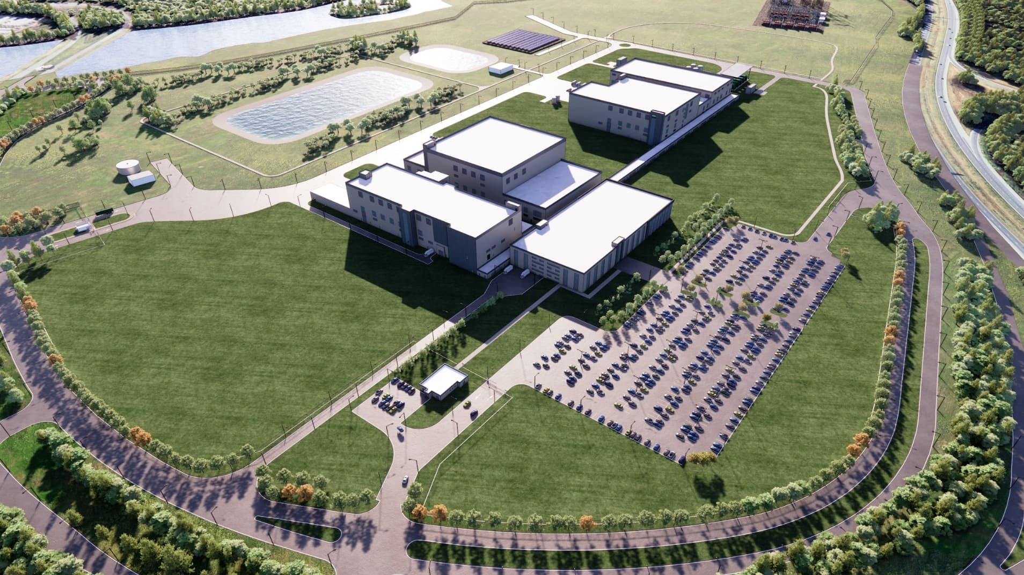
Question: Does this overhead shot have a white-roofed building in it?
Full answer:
Yes, a white-roofed building appears in the view.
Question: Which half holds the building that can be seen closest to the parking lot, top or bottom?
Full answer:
The bottom half of the photo is where the building that can be seen closest to the parking lot is.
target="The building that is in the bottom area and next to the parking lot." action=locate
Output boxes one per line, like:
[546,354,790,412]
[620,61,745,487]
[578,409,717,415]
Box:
[419,364,469,401]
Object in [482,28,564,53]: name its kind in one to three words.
solar array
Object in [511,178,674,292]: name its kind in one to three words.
building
